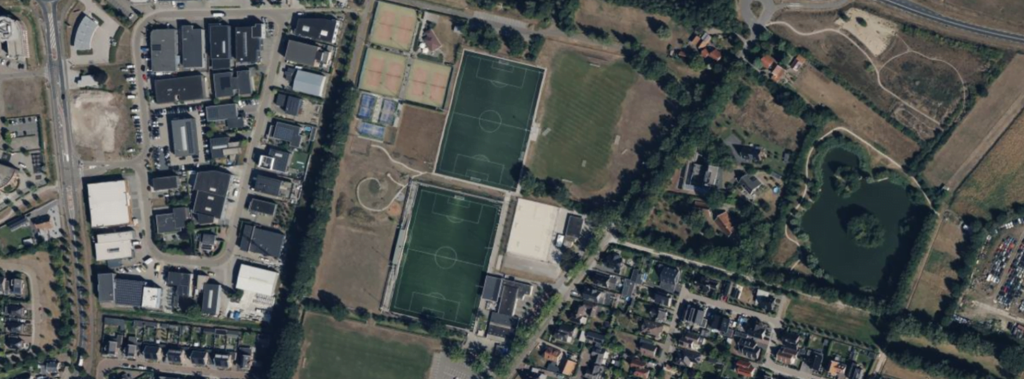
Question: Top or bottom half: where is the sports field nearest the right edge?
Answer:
top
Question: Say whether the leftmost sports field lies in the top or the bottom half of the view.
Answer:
bottom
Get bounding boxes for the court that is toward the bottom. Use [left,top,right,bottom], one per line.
[500,199,568,283]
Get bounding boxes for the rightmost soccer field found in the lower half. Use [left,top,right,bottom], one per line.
[390,184,502,328]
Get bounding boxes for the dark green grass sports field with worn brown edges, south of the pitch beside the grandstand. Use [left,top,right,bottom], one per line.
[292,312,434,379]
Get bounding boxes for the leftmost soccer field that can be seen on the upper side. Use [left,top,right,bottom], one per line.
[437,52,540,190]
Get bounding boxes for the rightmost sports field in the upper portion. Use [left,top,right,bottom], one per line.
[522,49,668,200]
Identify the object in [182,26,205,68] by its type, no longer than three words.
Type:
building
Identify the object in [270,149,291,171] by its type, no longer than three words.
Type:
building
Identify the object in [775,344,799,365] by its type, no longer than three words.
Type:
house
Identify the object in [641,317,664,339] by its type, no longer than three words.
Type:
house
